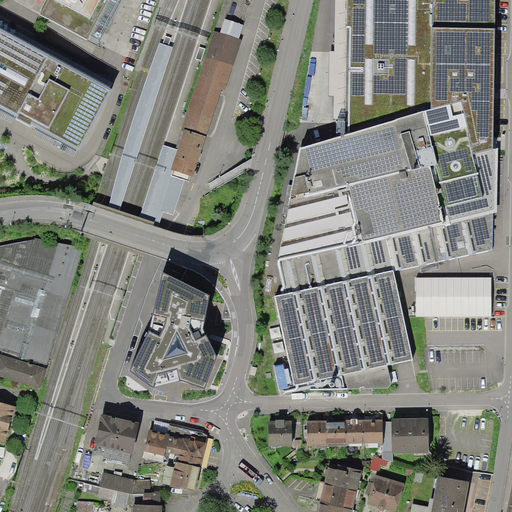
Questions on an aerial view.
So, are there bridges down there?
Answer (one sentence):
Yes, there is a bridge in the image.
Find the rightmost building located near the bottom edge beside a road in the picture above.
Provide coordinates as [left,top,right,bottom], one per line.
[430,475,470,512]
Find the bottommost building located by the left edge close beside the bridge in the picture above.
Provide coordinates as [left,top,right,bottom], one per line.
[0,238,82,366]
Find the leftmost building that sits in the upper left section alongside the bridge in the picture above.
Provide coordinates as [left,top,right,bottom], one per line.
[0,20,115,152]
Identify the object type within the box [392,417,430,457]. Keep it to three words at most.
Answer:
house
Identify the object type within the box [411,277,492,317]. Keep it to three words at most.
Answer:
building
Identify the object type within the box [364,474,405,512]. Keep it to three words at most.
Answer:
house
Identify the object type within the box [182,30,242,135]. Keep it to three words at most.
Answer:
shed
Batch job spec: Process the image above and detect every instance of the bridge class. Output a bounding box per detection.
[82,202,208,270]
